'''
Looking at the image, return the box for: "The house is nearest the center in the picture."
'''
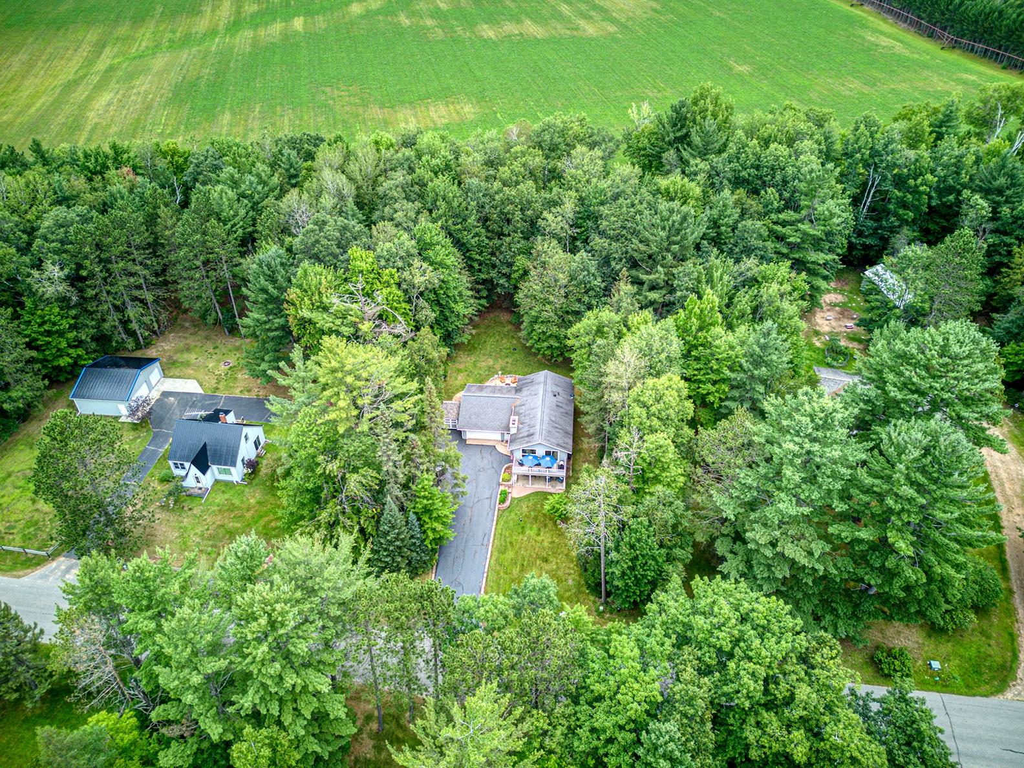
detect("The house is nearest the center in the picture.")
[433,371,576,489]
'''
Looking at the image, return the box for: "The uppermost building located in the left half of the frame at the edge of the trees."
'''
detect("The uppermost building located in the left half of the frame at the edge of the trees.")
[69,356,159,416]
